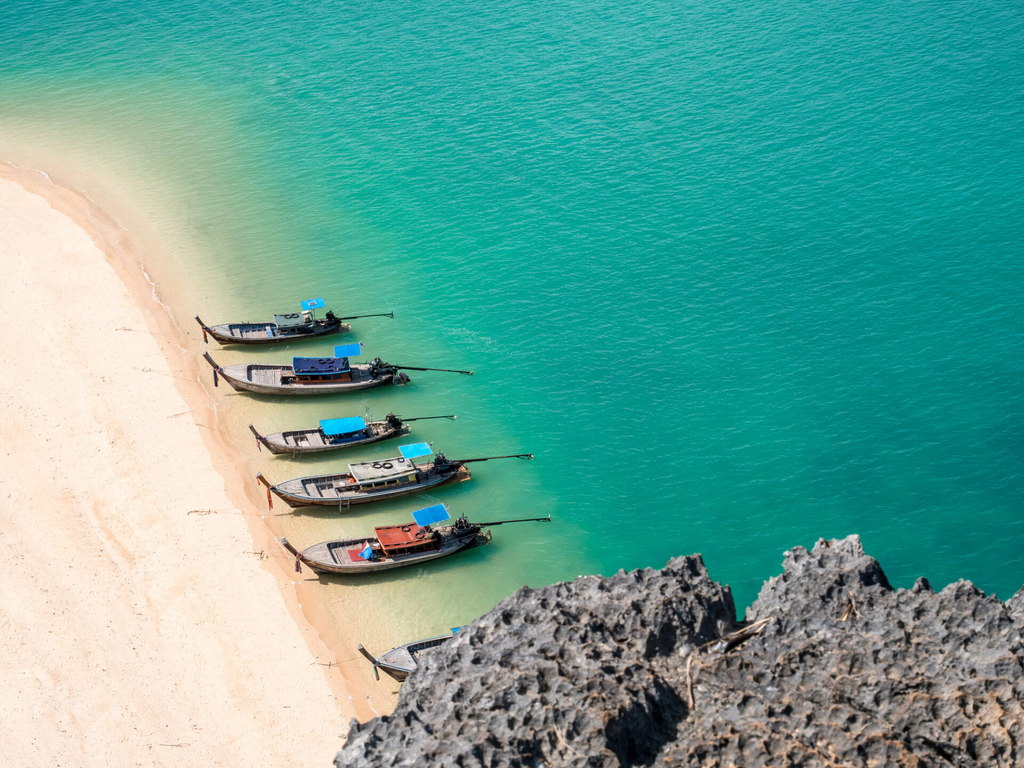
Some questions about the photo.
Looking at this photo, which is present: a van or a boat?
boat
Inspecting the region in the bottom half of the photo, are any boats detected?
Yes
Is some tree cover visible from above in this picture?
No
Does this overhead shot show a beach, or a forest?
beach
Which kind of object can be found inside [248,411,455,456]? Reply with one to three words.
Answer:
boat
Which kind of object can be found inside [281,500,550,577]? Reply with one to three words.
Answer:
boat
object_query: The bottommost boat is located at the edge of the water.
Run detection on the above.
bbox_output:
[358,622,480,682]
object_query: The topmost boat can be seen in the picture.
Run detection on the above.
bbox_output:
[194,298,393,348]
